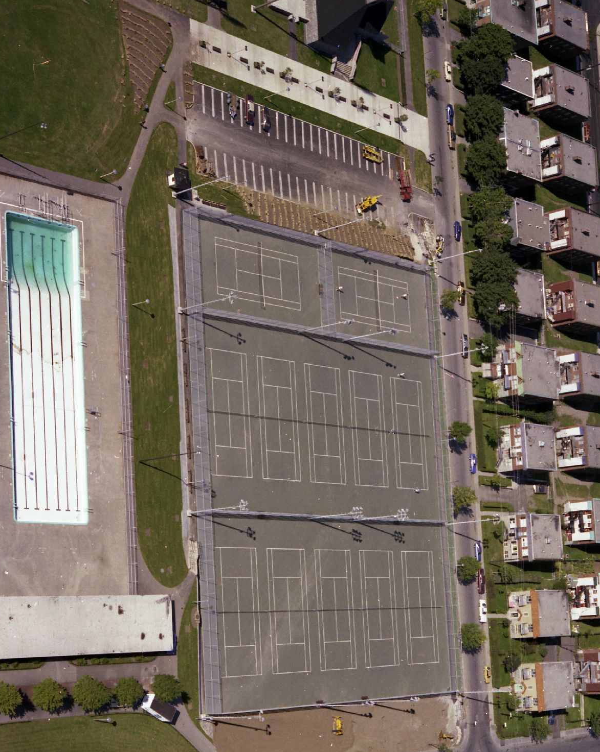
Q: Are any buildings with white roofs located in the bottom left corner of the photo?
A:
Yes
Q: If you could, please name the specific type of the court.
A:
tennis court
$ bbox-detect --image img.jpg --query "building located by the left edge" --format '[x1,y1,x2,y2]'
[0,594,174,660]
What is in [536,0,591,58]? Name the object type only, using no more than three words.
house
